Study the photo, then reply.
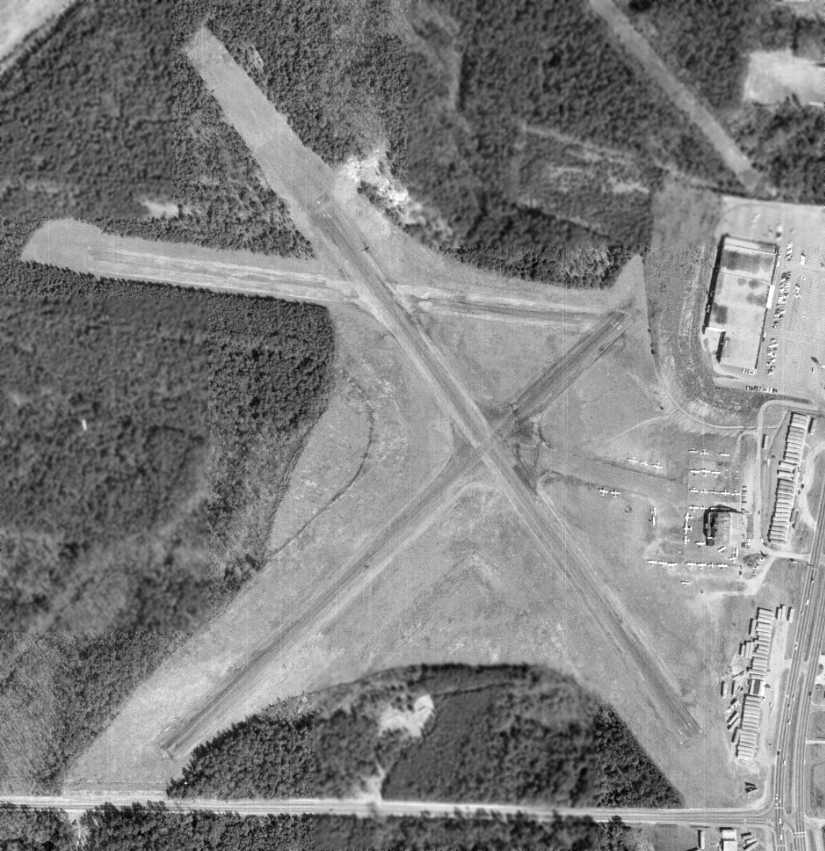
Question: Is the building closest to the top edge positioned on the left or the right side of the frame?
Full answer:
The building closest to the top edge sits on the right side.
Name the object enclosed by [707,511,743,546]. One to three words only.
hangar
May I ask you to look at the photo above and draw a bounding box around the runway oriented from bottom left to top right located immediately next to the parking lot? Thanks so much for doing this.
[161,310,629,759]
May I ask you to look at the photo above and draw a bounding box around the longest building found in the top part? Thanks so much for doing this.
[706,238,779,368]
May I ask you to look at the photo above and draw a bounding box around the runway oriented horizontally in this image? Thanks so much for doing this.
[81,245,612,330]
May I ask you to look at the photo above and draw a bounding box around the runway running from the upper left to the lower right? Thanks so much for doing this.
[317,198,701,737]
